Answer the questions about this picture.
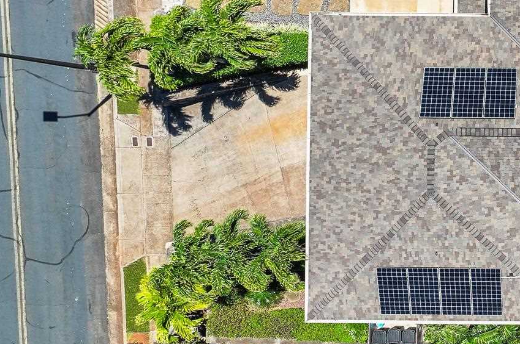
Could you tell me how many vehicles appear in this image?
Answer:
0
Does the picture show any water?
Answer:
No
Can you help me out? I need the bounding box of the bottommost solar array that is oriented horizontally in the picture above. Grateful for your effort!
[377,268,503,315]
